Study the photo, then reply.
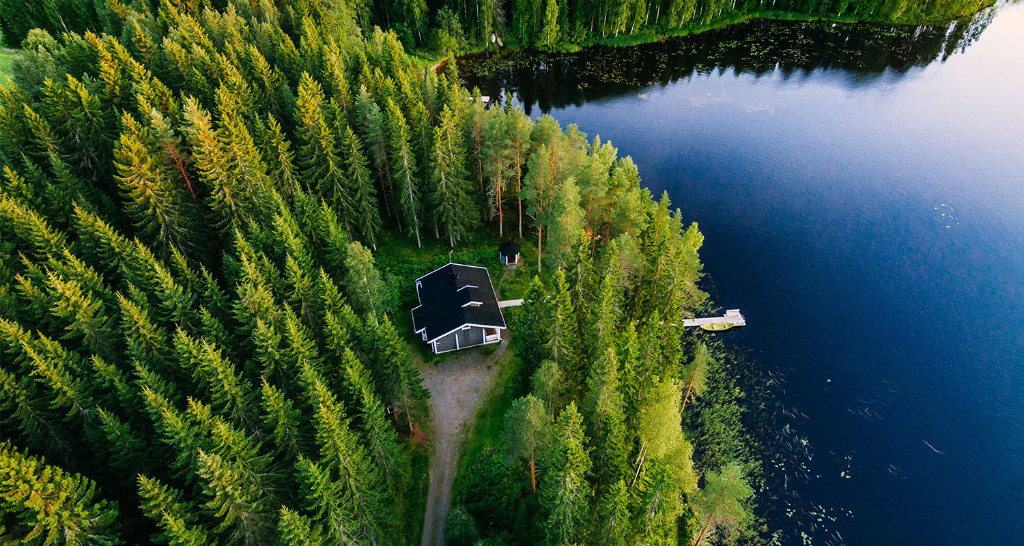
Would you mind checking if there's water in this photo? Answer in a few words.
Yes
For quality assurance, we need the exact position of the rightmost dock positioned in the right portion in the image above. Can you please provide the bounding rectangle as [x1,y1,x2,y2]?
[691,308,747,328]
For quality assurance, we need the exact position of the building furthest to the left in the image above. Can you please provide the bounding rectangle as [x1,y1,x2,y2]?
[410,247,507,353]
